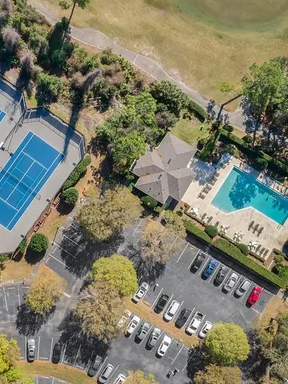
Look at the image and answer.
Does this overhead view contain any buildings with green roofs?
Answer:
No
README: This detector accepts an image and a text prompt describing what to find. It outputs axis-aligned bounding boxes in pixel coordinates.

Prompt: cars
[99,364,114,383]
[136,322,150,341]
[121,310,131,320]
[164,301,180,320]
[148,328,161,347]
[246,287,262,305]
[235,278,252,297]
[52,342,61,361]
[197,321,212,339]
[133,283,148,301]
[155,294,170,312]
[28,339,36,358]
[202,260,217,278]
[157,335,172,354]
[88,356,102,376]
[224,273,239,291]
[190,253,205,271]
[176,308,191,327]
[126,316,140,335]
[212,266,228,285]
